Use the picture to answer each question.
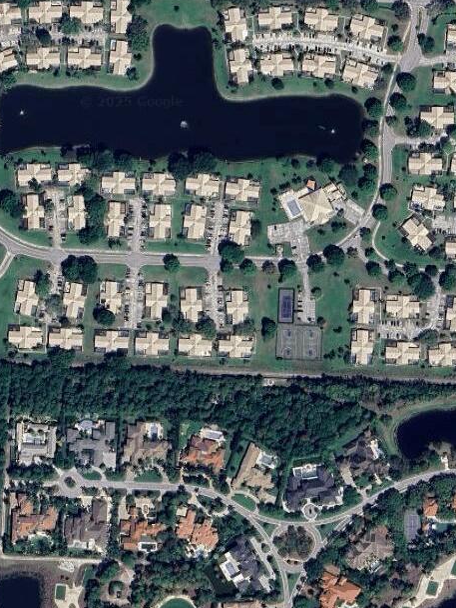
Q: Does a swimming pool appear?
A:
Yes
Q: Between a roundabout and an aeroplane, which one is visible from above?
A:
roundabout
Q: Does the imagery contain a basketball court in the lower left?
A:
No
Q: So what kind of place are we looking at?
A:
residential area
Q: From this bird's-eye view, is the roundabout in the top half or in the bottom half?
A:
bottom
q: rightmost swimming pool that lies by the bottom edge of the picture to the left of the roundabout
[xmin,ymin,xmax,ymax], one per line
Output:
[219,554,244,583]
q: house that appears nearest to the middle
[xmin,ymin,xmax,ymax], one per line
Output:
[227,291,248,325]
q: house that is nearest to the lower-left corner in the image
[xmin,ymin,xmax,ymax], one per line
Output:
[10,494,58,547]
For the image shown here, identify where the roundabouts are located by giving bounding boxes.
[269,517,321,567]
